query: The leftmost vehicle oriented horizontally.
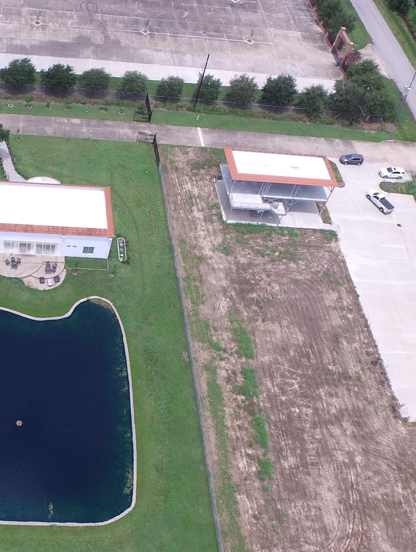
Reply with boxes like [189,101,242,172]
[338,151,368,165]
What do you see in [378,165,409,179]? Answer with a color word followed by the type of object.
white car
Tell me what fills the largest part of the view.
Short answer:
paved ground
